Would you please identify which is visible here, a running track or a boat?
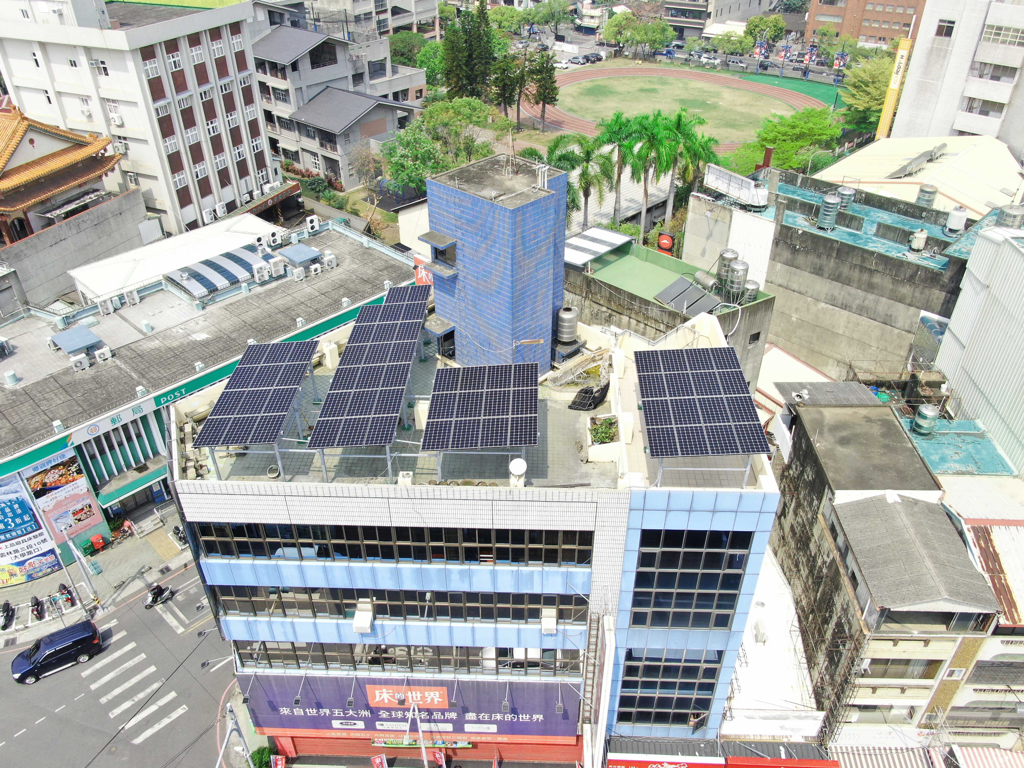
running track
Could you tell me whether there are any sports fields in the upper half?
Yes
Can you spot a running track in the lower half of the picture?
No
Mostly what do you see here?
buildings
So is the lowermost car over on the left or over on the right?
left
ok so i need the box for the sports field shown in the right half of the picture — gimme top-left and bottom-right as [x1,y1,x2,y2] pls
[555,75,802,143]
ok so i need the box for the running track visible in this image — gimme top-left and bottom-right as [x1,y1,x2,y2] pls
[520,68,842,154]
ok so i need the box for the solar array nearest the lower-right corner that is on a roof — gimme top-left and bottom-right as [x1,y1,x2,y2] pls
[634,347,769,485]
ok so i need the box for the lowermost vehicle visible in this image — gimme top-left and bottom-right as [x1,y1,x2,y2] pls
[5,618,100,688]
